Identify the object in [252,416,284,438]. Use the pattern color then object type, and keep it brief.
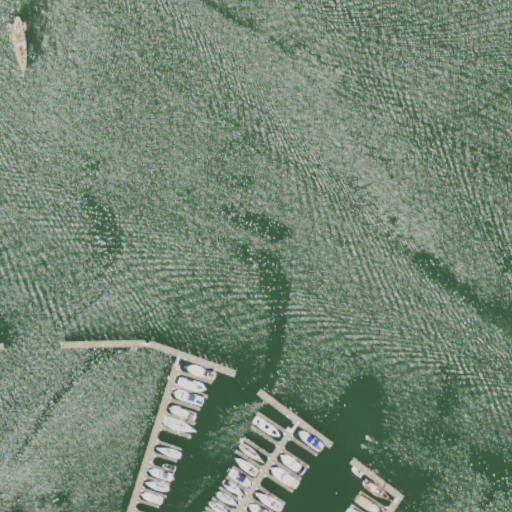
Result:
white boat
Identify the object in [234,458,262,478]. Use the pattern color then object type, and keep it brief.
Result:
white boat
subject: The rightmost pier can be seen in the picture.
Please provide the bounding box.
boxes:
[352,458,403,512]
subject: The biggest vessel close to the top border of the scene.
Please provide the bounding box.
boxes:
[13,16,26,78]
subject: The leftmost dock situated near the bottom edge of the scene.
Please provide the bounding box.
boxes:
[126,356,212,512]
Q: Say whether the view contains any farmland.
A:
No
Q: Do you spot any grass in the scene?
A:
No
